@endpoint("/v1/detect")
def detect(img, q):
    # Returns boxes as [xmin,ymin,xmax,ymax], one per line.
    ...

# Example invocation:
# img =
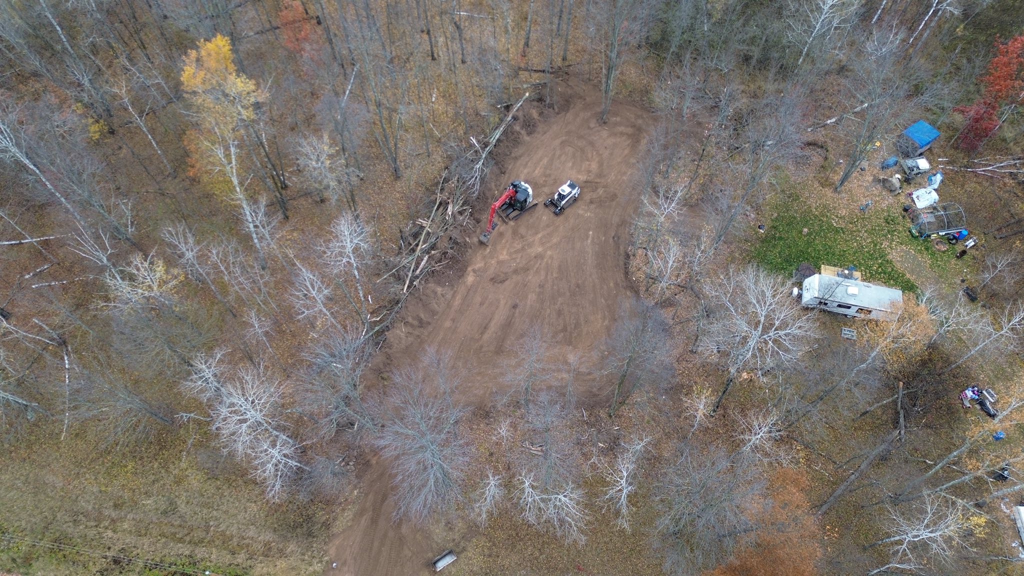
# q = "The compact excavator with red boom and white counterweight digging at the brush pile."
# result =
[478,182,536,246]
